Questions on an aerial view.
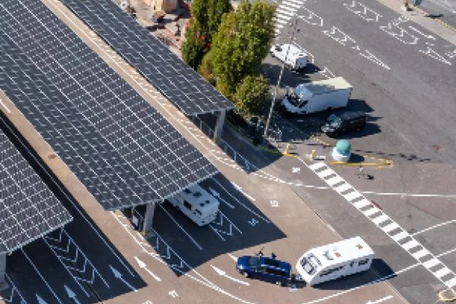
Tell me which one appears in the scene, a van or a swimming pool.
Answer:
van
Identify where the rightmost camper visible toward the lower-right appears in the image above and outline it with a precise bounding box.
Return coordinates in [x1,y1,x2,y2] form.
[298,231,380,276]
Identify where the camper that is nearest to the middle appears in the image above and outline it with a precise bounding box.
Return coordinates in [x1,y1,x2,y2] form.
[162,184,220,230]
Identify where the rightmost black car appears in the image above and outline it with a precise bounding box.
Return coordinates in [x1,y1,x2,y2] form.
[326,113,367,138]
